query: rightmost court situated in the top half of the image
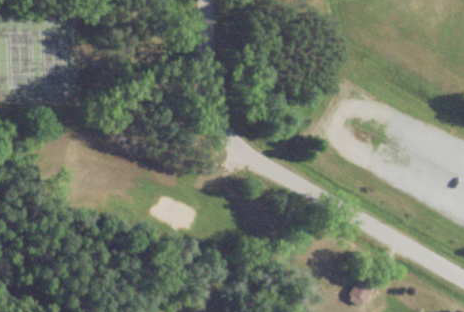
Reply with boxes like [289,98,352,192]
[38,22,79,100]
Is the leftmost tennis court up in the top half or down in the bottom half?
top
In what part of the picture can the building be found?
bottom right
